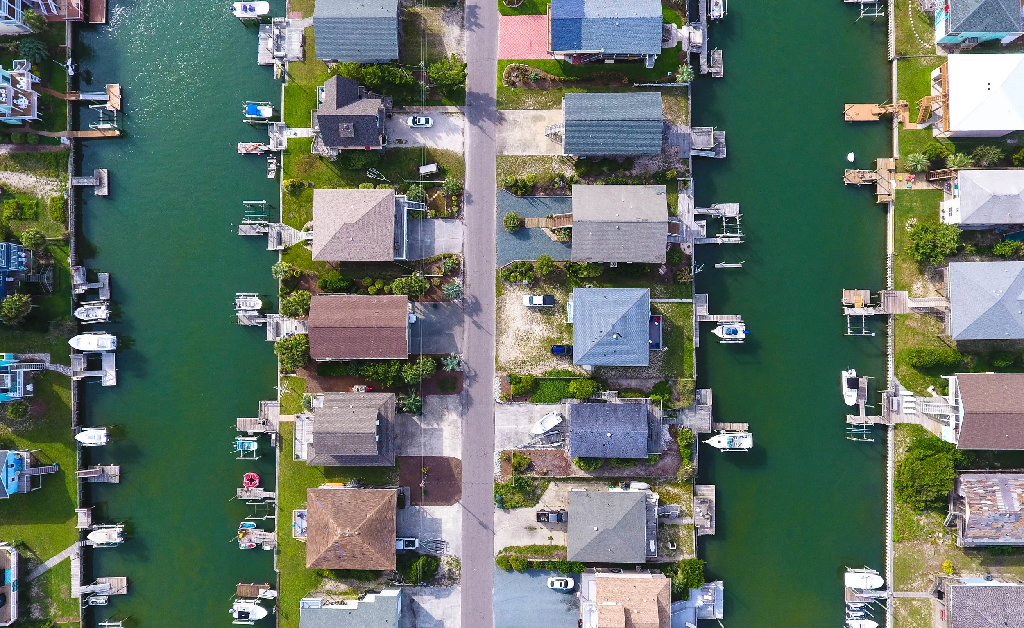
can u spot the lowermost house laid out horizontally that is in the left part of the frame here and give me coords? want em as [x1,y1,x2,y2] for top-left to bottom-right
[298,584,404,628]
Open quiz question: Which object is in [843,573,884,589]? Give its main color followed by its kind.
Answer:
white boat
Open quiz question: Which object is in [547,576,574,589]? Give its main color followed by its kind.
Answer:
white vehicle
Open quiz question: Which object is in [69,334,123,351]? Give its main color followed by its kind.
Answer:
white boat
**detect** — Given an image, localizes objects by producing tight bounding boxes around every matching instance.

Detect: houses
[914,0,1024,50]
[0,449,59,502]
[581,567,671,628]
[298,584,404,628]
[545,92,674,157]
[0,355,46,404]
[313,0,405,69]
[567,488,679,563]
[561,390,676,458]
[0,545,21,628]
[0,59,47,124]
[293,486,405,570]
[308,293,412,362]
[547,0,672,69]
[942,469,1024,547]
[909,262,1024,339]
[928,168,1024,232]
[291,393,396,466]
[299,189,425,260]
[311,73,393,163]
[928,571,1024,628]
[0,239,55,301]
[916,53,1024,137]
[567,288,662,371]
[921,373,1024,449]
[553,185,681,263]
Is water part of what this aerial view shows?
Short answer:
Yes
